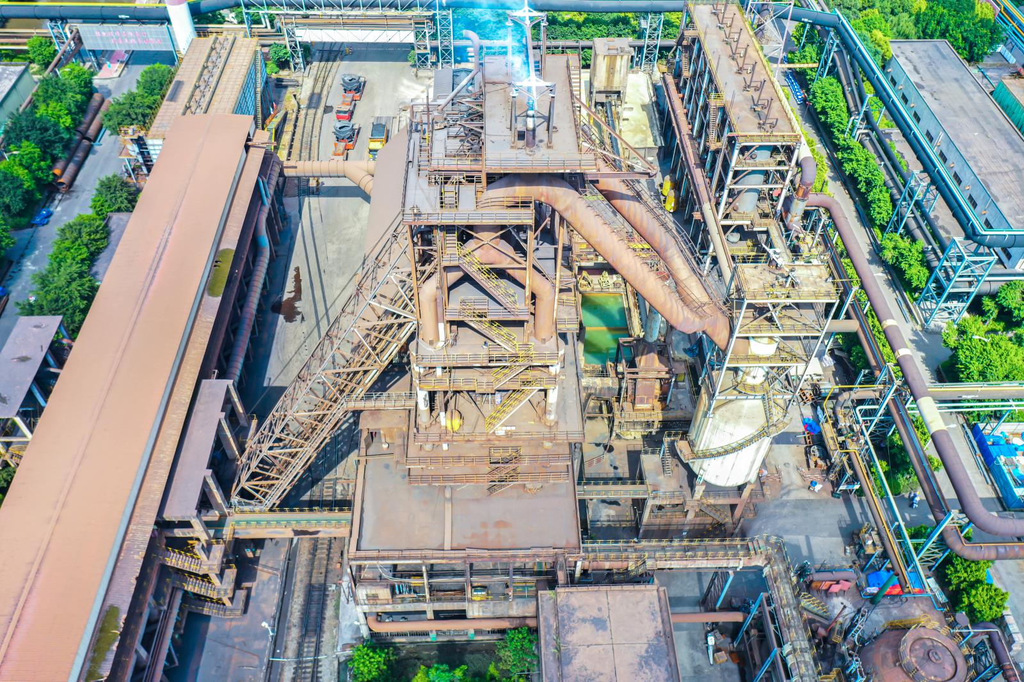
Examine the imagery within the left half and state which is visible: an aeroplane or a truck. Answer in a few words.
truck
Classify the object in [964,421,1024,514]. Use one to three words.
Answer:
building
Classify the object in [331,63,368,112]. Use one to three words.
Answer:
truck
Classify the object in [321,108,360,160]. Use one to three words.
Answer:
truck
